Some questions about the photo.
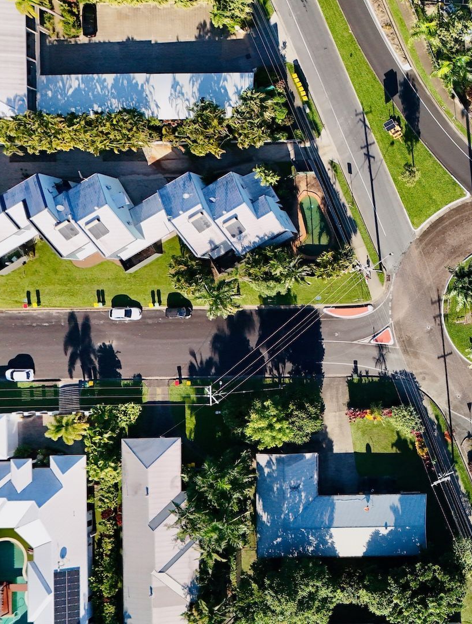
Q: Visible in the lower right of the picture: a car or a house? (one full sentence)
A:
Visible in the lower right of the picture is a house.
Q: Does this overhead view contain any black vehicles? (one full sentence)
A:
Yes, a black vehicle is visible in the scene.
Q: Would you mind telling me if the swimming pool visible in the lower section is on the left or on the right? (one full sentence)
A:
You can find the swimming pool visible in the lower section on the left side of the picture.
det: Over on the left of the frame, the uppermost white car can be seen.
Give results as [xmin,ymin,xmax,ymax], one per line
[109,307,141,322]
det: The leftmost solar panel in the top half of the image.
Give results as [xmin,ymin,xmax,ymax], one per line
[59,222,79,240]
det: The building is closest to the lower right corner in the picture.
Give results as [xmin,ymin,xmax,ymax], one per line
[257,450,430,559]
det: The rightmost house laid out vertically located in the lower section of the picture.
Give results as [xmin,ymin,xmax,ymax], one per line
[122,437,208,624]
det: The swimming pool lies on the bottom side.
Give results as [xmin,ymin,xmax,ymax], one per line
[0,539,27,624]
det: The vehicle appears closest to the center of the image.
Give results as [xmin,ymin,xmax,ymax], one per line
[159,305,198,322]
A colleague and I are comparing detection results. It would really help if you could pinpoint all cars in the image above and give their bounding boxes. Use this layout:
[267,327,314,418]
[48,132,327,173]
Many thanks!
[159,305,198,322]
[4,369,37,384]
[109,307,141,322]
[78,3,99,39]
